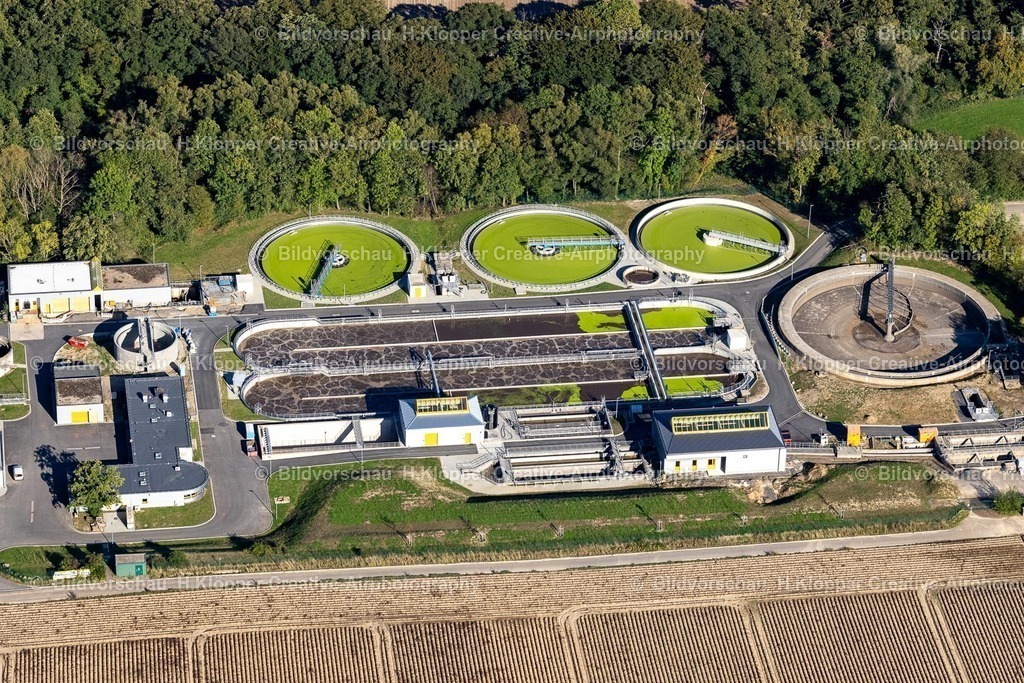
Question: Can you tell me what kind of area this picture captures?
industrial area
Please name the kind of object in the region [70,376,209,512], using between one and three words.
building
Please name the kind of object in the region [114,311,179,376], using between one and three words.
storage tank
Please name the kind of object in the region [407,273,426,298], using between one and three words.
shed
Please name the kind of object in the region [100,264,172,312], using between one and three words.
building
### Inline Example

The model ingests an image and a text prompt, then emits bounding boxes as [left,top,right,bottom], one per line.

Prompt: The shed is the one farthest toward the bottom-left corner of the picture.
[115,552,146,578]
